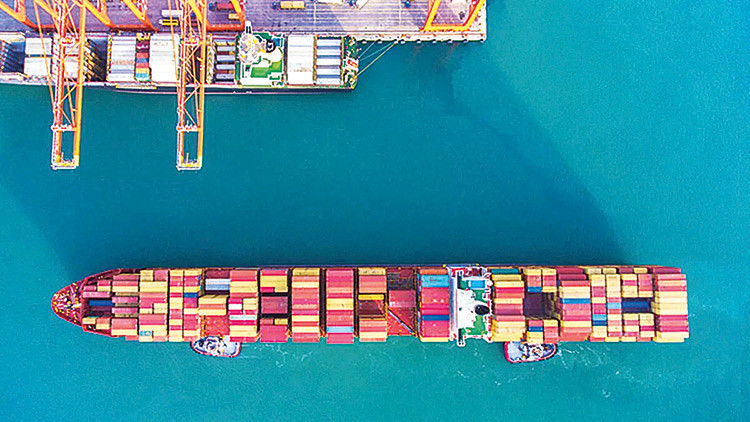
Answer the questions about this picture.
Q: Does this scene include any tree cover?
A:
No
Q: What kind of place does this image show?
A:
port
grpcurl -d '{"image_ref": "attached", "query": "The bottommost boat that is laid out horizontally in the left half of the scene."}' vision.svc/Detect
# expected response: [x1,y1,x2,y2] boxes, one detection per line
[189,336,244,360]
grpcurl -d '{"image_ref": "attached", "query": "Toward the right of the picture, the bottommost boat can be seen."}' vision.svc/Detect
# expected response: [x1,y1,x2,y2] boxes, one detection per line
[502,338,560,364]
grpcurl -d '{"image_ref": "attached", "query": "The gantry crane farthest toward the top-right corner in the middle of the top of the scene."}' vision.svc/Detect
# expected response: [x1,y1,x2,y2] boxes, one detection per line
[423,0,480,29]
